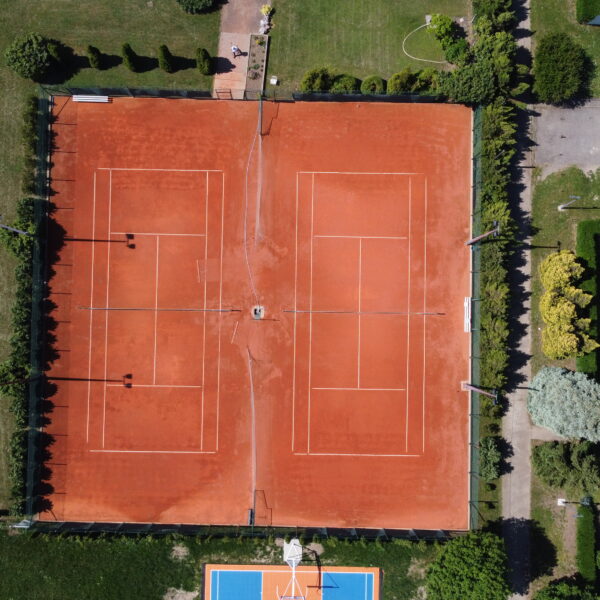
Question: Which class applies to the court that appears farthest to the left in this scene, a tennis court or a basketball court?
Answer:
tennis court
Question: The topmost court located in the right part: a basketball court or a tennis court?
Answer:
tennis court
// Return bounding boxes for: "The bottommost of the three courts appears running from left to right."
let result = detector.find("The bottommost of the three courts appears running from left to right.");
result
[202,565,383,600]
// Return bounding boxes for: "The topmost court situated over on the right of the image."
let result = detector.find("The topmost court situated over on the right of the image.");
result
[254,100,472,530]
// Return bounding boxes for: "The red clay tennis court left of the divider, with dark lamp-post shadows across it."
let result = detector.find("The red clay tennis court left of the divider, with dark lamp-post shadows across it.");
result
[38,97,261,526]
